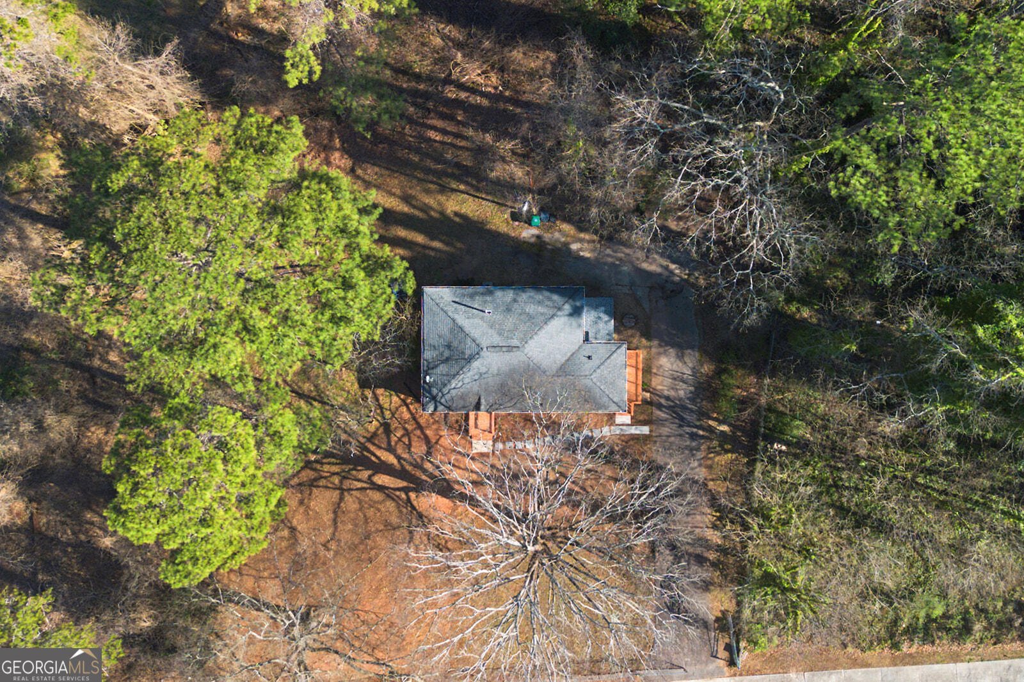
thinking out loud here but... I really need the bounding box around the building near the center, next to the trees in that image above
[421,285,642,442]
